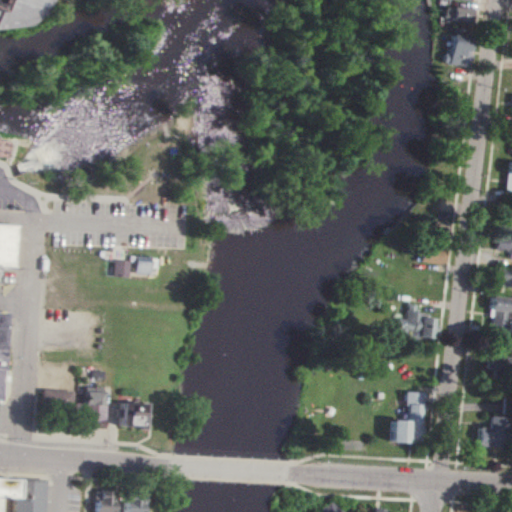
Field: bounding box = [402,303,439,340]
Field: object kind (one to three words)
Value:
house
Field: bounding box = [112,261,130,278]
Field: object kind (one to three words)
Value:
building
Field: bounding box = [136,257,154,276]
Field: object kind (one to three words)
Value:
building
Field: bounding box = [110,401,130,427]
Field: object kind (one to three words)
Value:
house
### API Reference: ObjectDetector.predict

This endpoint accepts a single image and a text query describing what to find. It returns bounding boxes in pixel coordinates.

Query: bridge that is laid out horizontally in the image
[188,456,292,486]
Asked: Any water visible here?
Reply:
Yes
